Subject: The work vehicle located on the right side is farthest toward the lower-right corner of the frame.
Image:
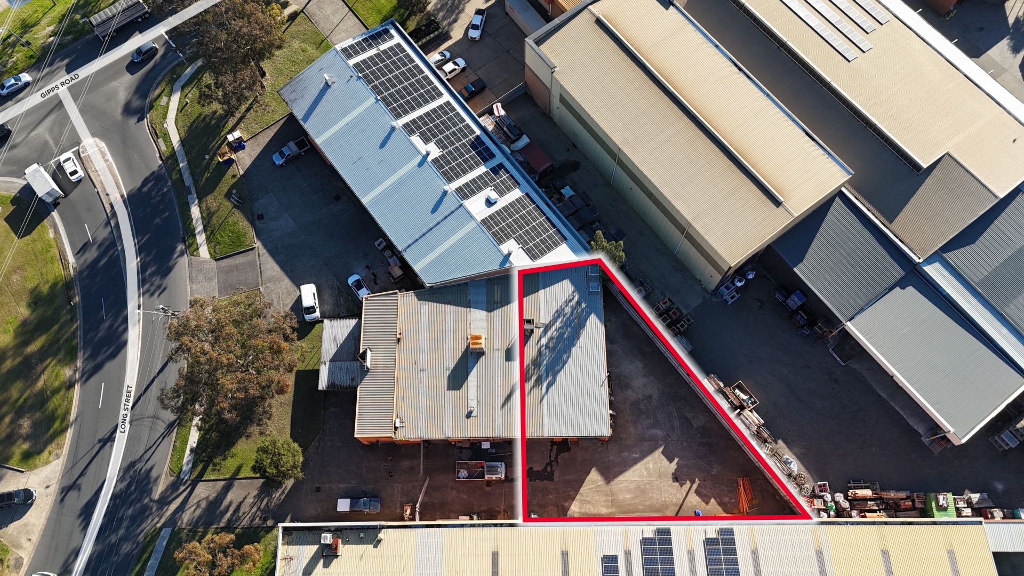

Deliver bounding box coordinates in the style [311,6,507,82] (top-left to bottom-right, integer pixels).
[788,289,812,312]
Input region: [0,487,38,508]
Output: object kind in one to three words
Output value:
car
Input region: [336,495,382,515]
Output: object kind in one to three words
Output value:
vehicle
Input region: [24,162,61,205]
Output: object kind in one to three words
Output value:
truck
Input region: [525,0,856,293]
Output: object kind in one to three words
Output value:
warehouse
